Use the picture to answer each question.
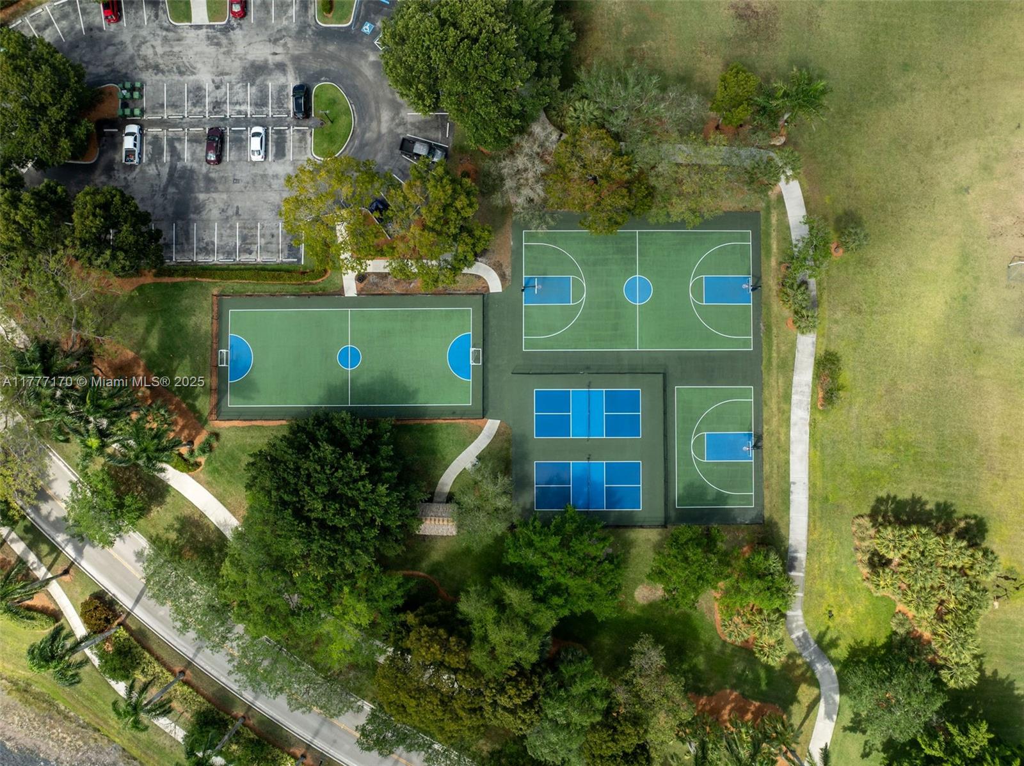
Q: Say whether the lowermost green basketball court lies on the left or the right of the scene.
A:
right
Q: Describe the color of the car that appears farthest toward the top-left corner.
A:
red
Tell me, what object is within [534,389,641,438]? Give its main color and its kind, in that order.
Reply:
blue sports court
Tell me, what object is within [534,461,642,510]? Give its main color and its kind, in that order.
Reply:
blue sports court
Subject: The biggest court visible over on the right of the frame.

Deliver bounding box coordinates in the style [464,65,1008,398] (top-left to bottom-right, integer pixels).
[523,230,752,350]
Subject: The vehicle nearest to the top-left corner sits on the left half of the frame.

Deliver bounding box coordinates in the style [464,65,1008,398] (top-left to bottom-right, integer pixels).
[101,0,122,25]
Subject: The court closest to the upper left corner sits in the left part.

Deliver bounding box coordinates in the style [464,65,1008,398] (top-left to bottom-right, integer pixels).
[217,294,482,420]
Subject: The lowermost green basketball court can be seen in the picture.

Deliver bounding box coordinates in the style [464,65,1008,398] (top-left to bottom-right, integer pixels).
[676,386,754,508]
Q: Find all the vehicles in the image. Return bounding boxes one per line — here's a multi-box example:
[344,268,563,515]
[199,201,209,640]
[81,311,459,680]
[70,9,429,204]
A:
[101,0,122,25]
[370,198,401,233]
[121,125,142,165]
[205,128,224,165]
[231,0,247,20]
[248,126,267,162]
[290,83,310,121]
[398,135,446,164]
